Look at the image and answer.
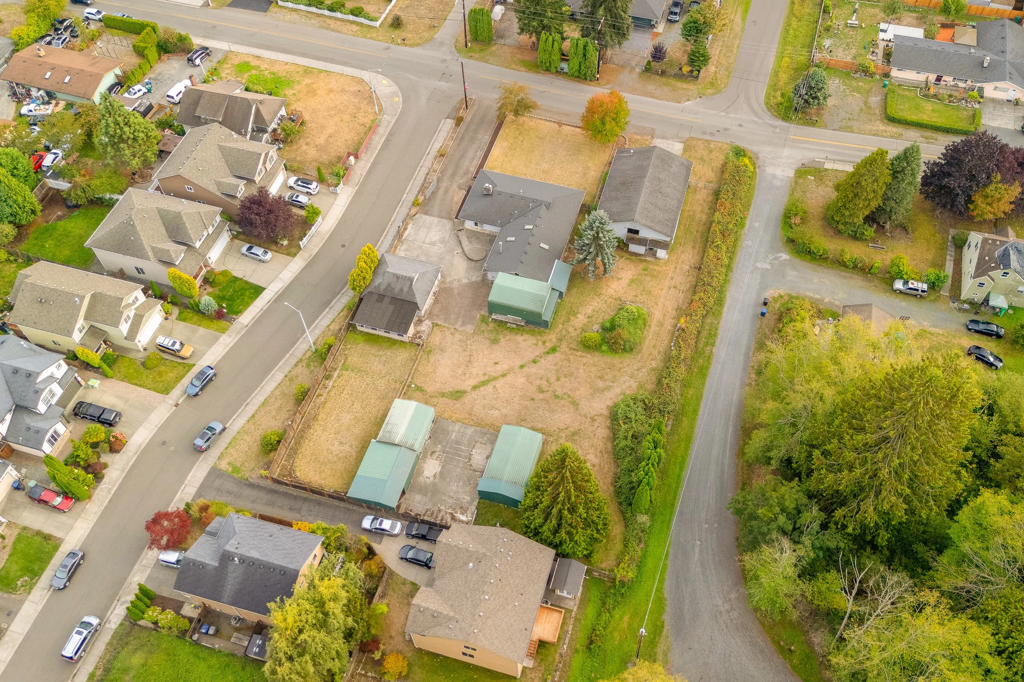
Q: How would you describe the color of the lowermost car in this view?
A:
white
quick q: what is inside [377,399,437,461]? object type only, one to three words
shed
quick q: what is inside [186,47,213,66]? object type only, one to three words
car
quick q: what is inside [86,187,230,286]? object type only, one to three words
house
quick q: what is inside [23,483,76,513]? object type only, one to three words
truck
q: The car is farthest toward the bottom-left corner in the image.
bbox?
[60,616,103,664]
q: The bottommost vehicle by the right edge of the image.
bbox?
[966,345,1003,370]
